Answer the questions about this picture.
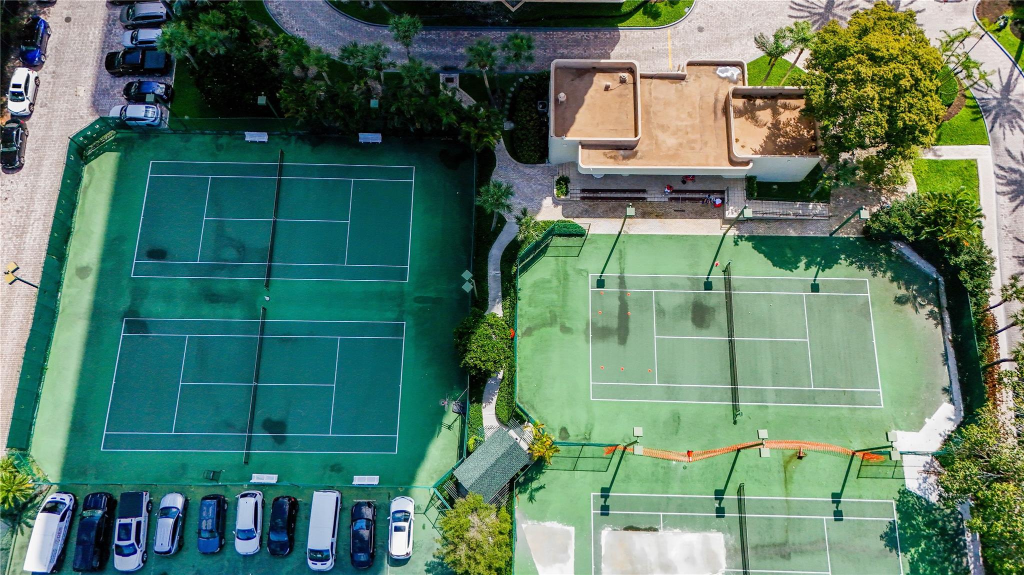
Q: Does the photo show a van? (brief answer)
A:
Yes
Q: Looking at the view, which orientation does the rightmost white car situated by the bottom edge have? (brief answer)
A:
from top to bottom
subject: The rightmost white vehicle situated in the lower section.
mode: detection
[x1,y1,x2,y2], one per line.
[387,497,416,560]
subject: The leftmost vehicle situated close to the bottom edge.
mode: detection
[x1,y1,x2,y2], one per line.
[17,492,80,575]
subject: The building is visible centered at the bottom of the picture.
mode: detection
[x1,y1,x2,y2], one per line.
[440,412,536,507]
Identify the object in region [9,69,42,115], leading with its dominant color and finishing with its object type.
white car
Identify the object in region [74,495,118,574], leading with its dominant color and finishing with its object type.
black truck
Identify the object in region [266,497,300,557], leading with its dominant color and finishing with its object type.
black car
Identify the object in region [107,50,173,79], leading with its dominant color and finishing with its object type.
black truck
